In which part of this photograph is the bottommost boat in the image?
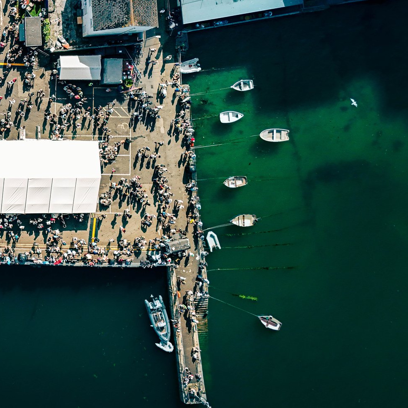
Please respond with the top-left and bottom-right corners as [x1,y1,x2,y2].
[153,339,173,354]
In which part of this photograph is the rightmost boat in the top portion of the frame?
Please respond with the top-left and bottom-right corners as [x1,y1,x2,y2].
[260,128,291,142]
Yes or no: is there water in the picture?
Yes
